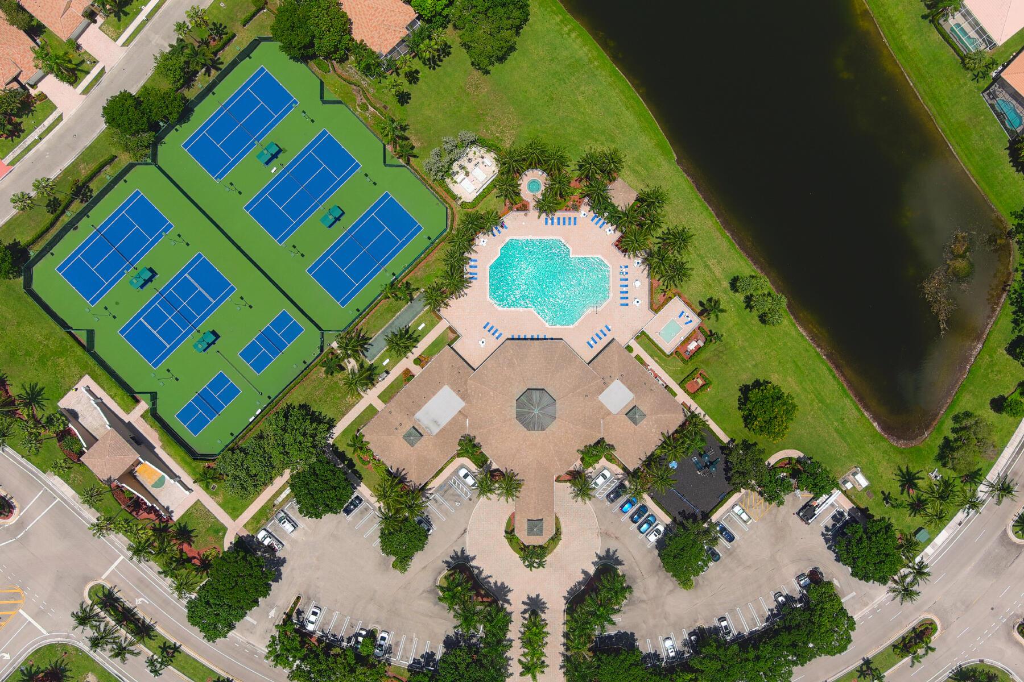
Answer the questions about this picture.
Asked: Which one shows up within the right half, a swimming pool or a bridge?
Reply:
swimming pool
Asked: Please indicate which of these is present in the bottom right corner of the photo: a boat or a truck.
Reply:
truck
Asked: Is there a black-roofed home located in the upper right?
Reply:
No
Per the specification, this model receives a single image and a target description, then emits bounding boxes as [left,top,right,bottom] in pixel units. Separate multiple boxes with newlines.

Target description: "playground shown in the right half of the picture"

[636,427,735,519]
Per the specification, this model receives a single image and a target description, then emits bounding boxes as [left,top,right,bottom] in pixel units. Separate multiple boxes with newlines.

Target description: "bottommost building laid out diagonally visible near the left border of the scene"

[51,385,193,515]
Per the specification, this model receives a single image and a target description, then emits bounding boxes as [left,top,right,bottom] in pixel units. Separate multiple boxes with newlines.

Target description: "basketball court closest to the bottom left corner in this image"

[136,460,165,489]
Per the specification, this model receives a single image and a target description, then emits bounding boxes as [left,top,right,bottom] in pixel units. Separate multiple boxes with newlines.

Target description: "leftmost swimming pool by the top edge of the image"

[949,22,979,50]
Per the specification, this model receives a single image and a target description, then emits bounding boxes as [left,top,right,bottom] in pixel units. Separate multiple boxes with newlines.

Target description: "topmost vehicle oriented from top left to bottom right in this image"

[458,467,477,488]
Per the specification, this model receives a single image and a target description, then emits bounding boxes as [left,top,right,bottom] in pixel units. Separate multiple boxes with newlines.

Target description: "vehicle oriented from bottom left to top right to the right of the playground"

[791,493,828,531]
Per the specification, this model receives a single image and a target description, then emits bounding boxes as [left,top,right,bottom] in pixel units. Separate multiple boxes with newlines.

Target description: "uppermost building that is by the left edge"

[19,0,104,42]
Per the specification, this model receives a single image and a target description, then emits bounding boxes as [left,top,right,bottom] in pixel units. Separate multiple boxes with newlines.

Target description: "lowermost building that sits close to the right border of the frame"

[993,48,1024,110]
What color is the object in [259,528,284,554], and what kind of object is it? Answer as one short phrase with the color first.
white vehicle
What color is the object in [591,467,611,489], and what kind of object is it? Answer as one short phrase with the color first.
white car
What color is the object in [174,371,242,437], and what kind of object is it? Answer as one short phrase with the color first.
blue sports court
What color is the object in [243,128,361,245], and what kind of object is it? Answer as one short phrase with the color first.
blue tennis court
